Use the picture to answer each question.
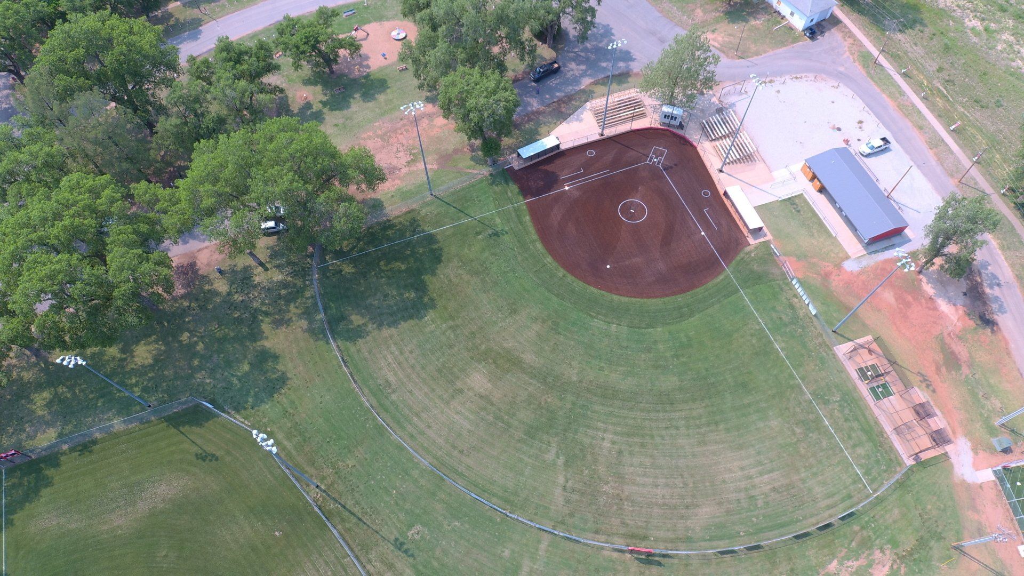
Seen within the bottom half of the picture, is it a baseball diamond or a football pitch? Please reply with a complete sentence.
Looking within the bottom half of the picture, you will find a baseball diamond.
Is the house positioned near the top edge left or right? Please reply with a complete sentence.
The house positioned near the top edge is on the right side of the image.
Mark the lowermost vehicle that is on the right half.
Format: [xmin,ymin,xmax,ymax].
[859,138,893,157]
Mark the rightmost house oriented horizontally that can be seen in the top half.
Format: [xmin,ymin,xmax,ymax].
[766,0,842,31]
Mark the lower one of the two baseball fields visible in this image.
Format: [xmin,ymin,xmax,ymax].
[0,401,362,576]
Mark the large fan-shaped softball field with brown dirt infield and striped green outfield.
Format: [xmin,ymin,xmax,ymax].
[315,129,909,553]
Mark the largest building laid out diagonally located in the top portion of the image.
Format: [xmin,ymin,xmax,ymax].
[805,147,908,247]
